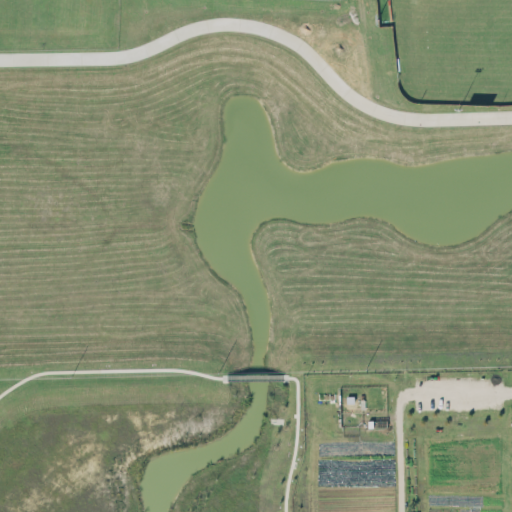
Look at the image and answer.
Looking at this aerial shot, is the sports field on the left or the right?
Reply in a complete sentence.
It is on the right.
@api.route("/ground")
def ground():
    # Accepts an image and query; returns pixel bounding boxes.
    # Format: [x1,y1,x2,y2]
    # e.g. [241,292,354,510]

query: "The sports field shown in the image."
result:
[380,0,512,105]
